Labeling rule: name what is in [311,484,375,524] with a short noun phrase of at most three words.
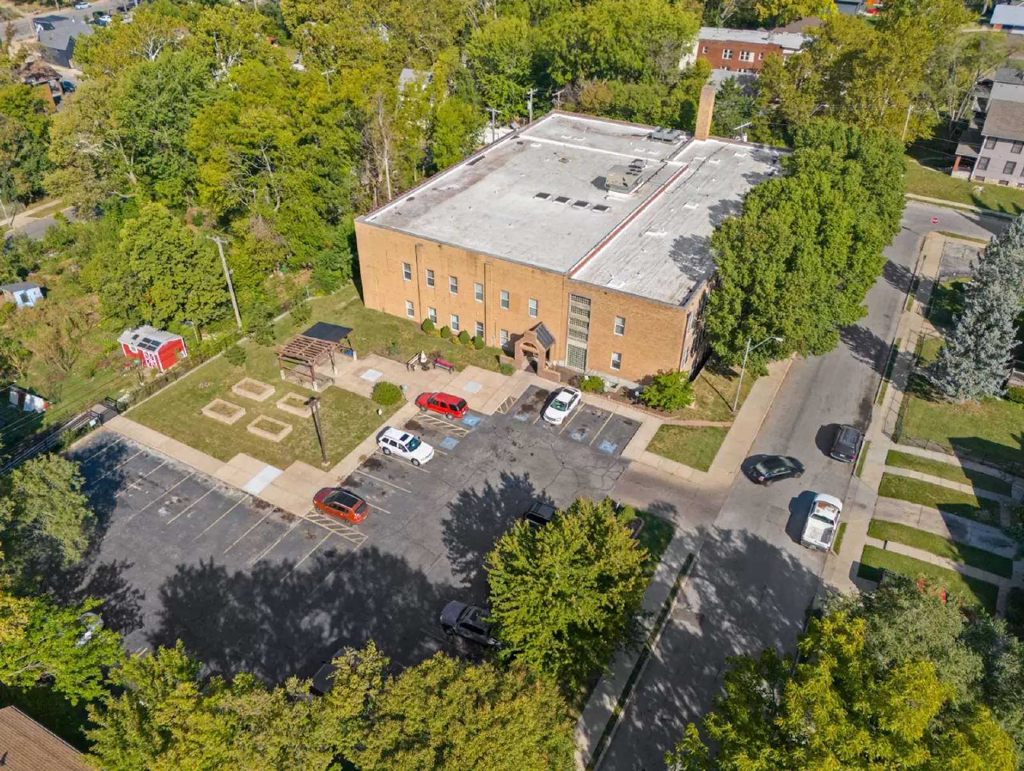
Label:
car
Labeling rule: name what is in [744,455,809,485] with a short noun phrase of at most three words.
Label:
car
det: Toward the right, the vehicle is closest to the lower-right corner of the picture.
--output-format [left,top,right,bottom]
[799,490,846,551]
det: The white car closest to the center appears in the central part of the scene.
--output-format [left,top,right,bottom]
[542,385,584,424]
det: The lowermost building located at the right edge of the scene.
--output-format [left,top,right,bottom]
[942,104,1024,189]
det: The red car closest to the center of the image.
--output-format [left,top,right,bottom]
[414,391,472,424]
